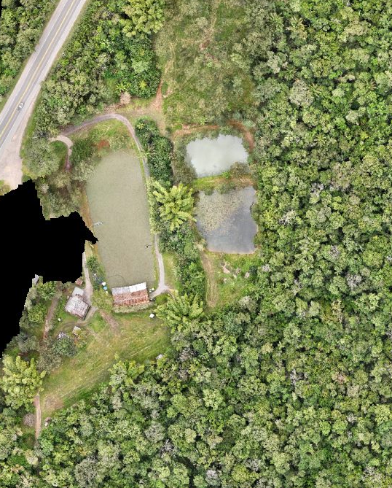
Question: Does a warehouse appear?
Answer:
No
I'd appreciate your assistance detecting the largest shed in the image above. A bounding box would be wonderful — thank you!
[113,283,149,307]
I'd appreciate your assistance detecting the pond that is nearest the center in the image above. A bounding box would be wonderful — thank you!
[196,187,256,252]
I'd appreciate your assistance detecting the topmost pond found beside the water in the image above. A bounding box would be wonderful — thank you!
[186,133,248,176]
